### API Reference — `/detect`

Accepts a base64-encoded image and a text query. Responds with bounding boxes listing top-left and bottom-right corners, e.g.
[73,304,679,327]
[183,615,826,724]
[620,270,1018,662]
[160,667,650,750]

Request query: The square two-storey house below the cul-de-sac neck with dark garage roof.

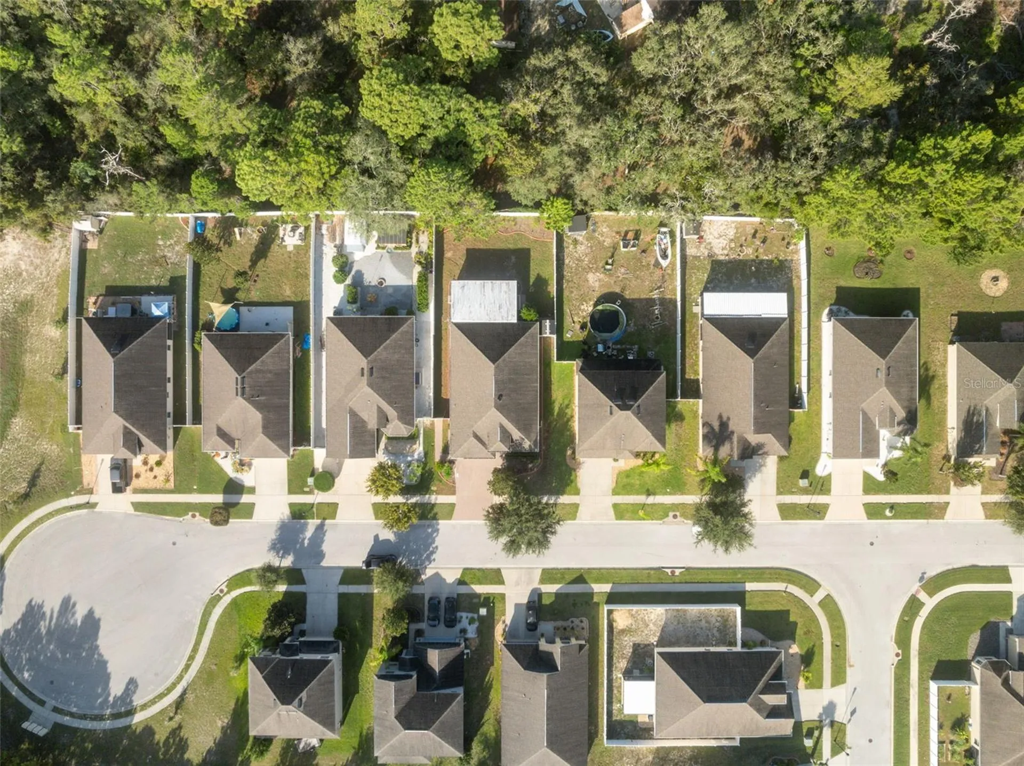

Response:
[248,635,343,739]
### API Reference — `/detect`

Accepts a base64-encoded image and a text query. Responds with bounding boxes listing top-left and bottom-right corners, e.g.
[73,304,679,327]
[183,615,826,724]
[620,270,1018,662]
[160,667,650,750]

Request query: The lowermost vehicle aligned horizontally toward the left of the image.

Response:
[363,555,396,570]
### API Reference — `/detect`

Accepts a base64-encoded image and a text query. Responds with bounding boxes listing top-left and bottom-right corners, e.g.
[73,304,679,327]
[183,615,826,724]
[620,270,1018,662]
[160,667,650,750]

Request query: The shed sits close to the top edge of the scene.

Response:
[605,0,660,42]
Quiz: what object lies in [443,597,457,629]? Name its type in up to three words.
car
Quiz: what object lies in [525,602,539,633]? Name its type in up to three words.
car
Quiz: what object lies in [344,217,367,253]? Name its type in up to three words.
shed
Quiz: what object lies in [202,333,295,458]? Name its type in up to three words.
house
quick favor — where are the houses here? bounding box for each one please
[699,292,789,461]
[826,318,919,459]
[326,316,415,459]
[81,317,176,460]
[574,359,666,460]
[501,633,588,766]
[968,632,1024,766]
[947,341,1024,458]
[621,646,795,739]
[248,635,343,739]
[450,281,539,459]
[374,638,465,764]
[202,333,295,458]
